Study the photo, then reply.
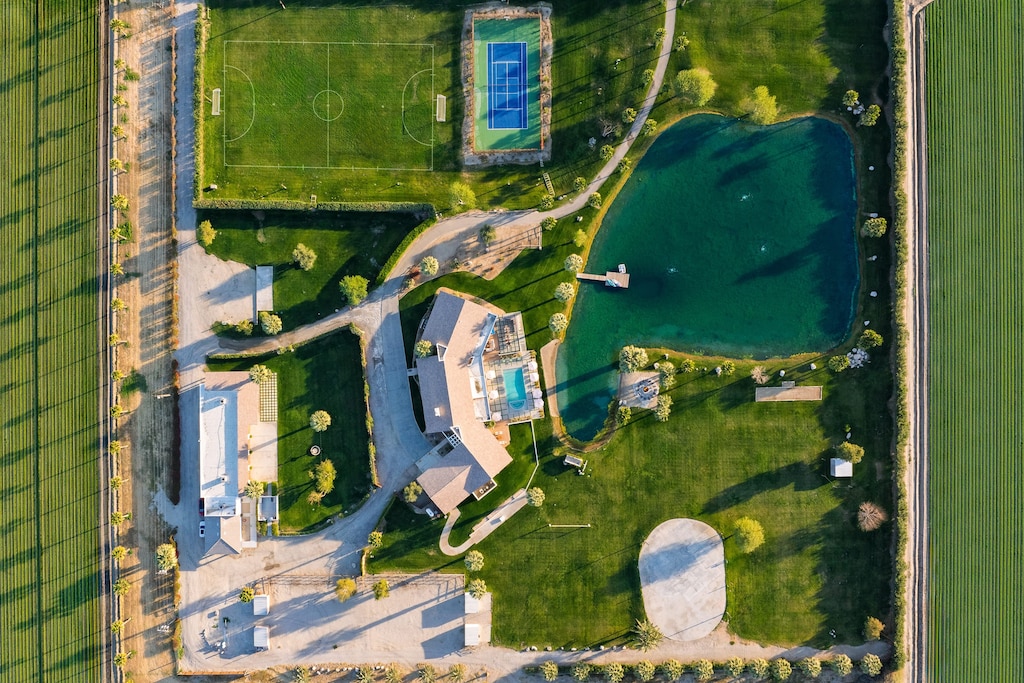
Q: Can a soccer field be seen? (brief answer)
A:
Yes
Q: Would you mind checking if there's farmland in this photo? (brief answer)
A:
Yes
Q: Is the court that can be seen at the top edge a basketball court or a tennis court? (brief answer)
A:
tennis court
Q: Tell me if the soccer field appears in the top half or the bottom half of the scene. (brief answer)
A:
top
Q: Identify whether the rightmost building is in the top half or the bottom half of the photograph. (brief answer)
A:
bottom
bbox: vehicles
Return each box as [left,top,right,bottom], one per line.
[197,498,204,516]
[199,521,205,537]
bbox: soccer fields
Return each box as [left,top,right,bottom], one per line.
[205,3,460,202]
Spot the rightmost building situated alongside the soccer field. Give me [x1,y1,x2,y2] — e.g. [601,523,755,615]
[408,292,513,515]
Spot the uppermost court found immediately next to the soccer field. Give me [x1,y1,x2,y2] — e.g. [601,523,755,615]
[474,15,542,151]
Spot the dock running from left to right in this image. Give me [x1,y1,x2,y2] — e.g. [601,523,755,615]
[577,271,630,288]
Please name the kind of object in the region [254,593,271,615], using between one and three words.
shed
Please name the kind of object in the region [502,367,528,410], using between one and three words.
swimming pool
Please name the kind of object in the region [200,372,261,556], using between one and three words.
house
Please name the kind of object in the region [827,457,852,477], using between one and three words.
building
